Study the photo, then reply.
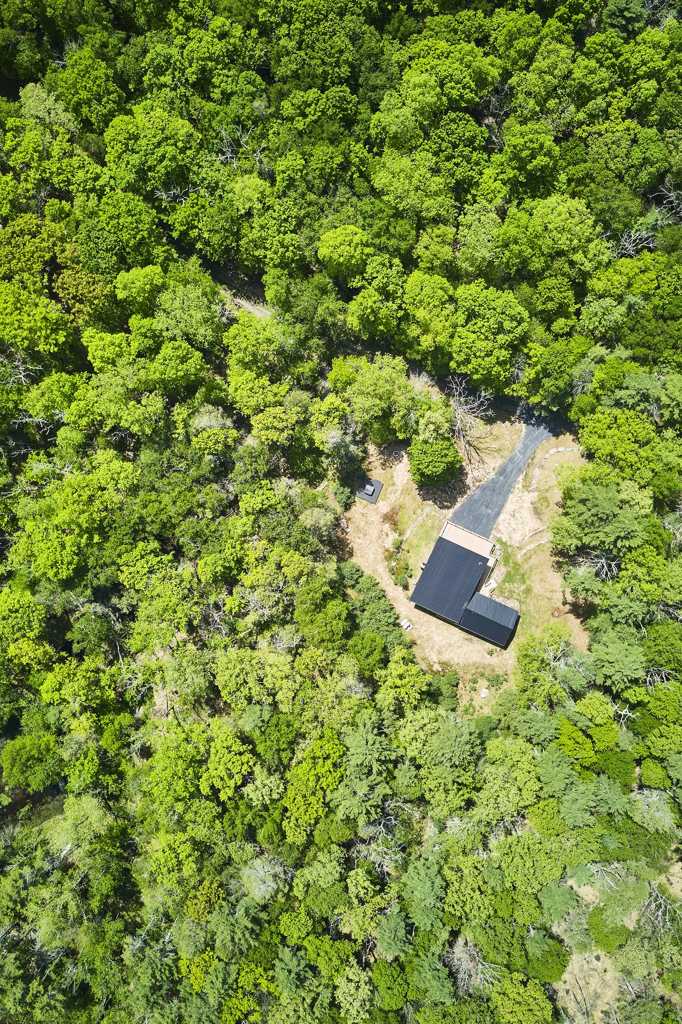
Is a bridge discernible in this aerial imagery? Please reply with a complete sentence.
No, the picture doesn't show any bridge.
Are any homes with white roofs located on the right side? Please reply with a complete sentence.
No, on the right side there is no home with a white roof.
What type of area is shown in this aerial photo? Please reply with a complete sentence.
What you see here is a forest.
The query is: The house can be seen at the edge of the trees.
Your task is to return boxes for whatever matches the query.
[410,522,518,646]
